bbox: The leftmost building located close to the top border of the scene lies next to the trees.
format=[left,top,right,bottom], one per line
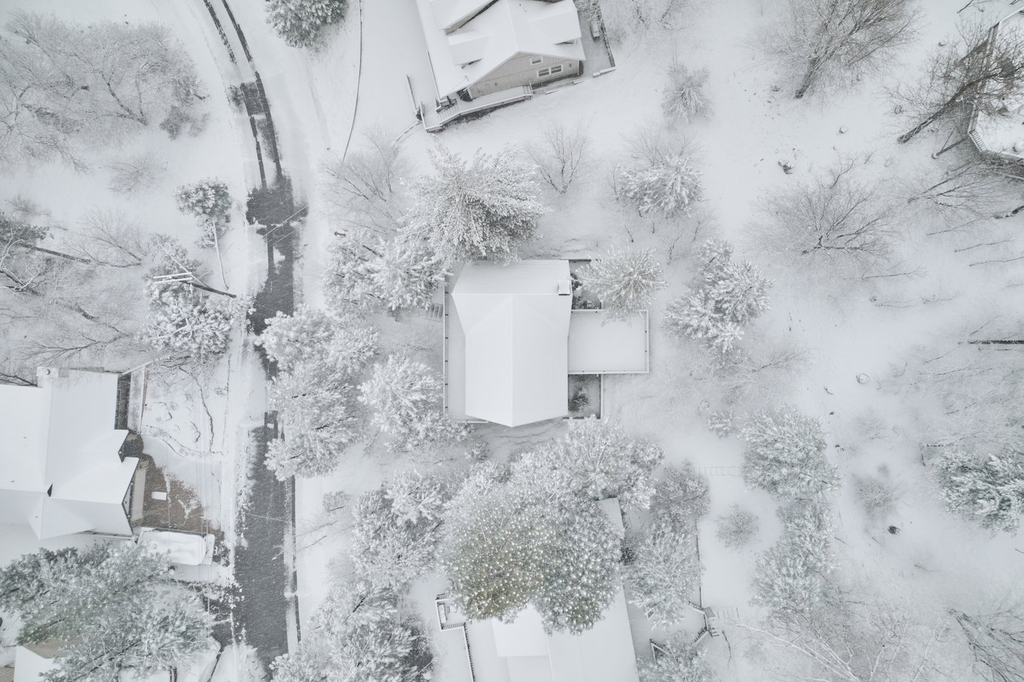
[417,0,585,110]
